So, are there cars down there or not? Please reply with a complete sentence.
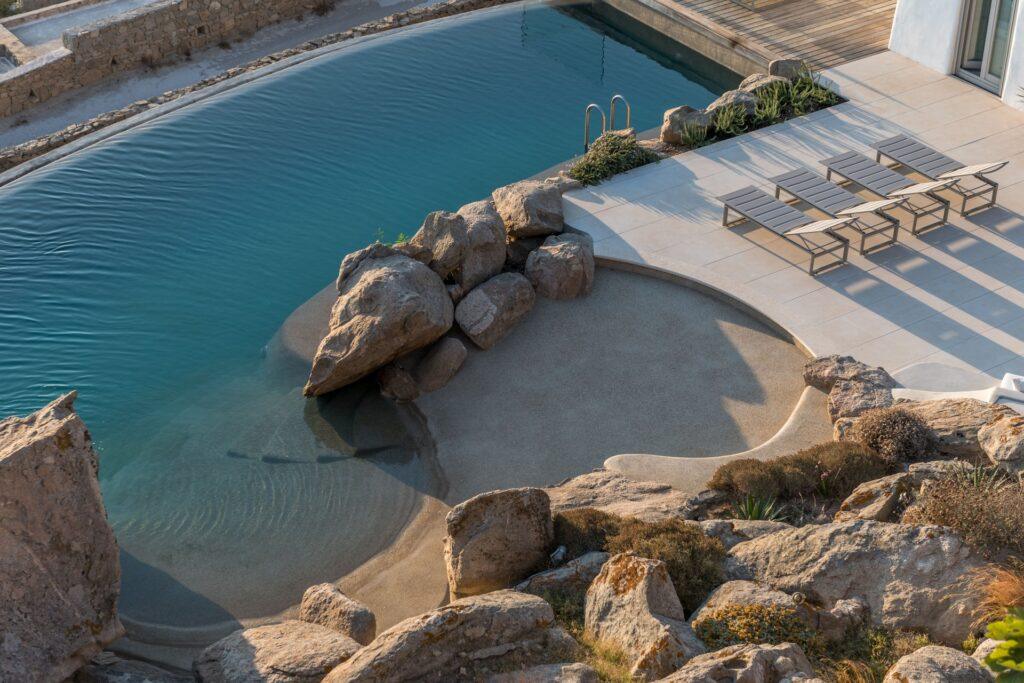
No, there isn't any car down there.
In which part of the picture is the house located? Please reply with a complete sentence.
The house sits in the top right section of the image.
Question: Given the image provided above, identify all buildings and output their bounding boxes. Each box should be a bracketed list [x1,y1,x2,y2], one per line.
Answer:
[892,0,1024,112]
